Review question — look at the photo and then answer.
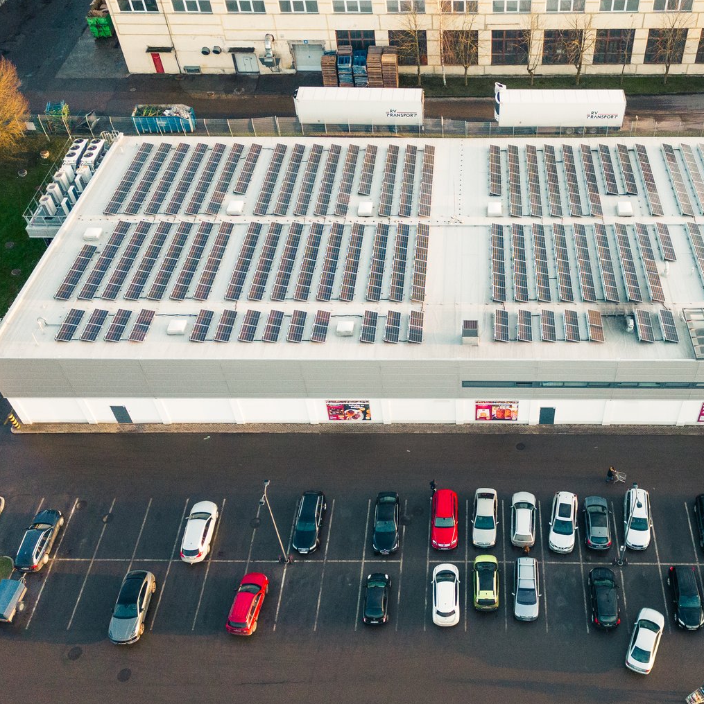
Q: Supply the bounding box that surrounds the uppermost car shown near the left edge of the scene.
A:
[11,511,63,571]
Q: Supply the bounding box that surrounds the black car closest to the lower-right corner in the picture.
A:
[669,569,704,632]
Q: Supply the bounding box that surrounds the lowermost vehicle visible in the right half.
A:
[625,608,667,677]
